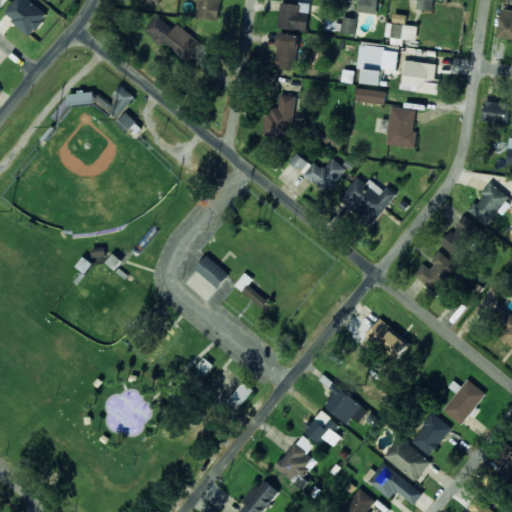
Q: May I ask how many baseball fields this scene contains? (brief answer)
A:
two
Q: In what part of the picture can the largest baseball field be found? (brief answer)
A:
left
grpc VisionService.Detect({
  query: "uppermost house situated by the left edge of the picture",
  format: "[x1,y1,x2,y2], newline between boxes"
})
[4,0,48,34]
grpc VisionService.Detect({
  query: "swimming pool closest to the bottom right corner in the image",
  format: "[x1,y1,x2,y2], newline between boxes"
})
[378,432,394,452]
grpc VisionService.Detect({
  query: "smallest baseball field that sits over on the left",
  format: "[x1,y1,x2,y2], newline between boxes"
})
[60,114,116,176]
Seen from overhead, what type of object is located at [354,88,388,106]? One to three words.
house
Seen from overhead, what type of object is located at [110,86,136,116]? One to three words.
building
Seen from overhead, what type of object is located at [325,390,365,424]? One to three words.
house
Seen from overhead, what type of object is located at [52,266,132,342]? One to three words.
baseball field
